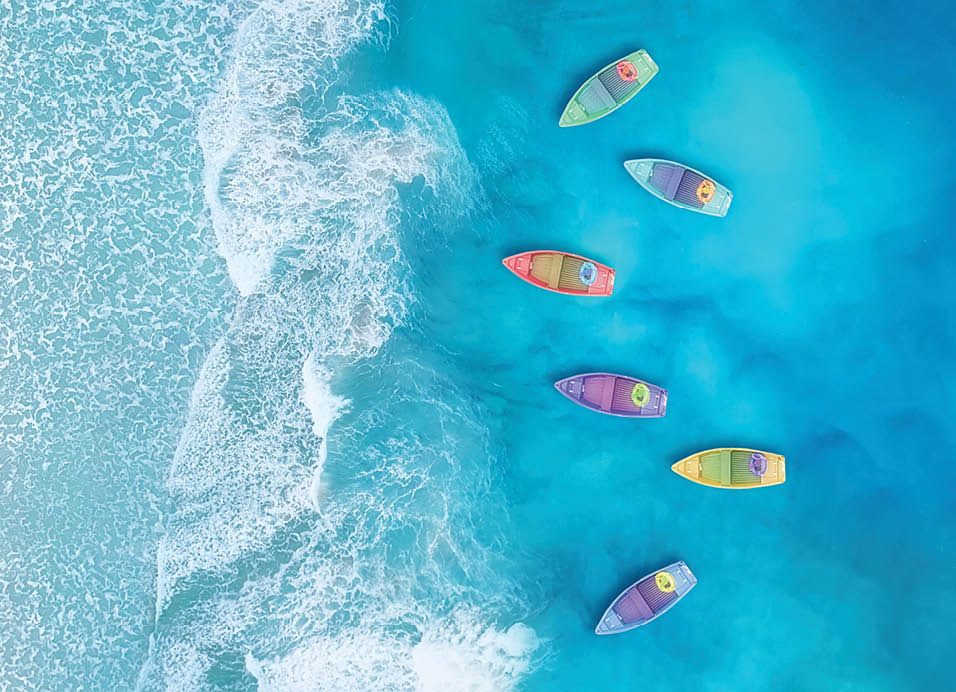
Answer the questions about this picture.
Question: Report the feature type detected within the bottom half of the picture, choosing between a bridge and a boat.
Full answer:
What appears within the bottom half of the picture is a boat.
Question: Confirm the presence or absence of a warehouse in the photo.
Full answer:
No, the photo shows no warehouse.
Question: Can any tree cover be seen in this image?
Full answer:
No, no tree cover is visible.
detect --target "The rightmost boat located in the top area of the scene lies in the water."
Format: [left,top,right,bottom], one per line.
[624,159,734,218]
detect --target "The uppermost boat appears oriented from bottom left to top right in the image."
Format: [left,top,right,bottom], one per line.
[559,49,659,127]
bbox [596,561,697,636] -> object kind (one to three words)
boat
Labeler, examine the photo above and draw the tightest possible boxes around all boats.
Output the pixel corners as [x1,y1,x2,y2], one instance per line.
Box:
[555,374,668,417]
[624,159,734,218]
[559,49,659,127]
[672,448,786,489]
[596,561,697,636]
[502,251,615,296]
